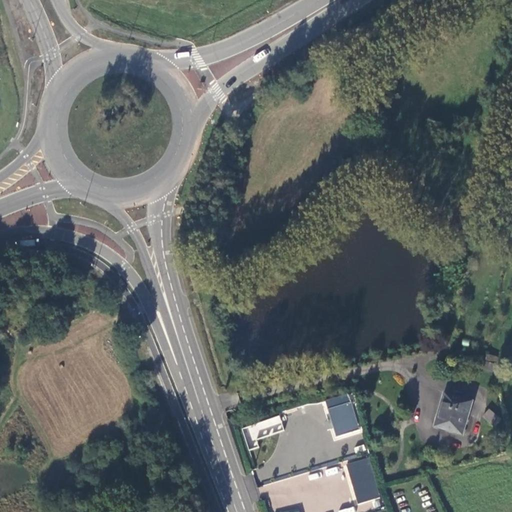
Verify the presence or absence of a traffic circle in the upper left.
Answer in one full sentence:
Yes, a traffic circle can be seen in the upper left.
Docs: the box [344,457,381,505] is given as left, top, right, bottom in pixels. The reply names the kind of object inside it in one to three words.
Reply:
building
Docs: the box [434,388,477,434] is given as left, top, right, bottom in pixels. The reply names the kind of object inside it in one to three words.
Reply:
house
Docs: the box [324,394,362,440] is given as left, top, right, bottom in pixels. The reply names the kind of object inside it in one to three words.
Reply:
building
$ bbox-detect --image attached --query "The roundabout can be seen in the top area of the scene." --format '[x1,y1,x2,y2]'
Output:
[38,46,202,208]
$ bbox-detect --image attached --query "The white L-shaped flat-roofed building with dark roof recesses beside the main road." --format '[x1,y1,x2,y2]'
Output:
[242,416,284,451]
